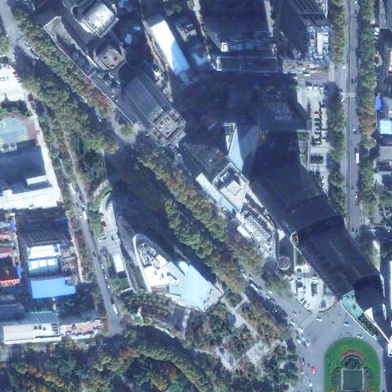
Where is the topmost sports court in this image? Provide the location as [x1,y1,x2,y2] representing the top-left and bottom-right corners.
[0,112,39,157]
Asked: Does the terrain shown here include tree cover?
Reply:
Yes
